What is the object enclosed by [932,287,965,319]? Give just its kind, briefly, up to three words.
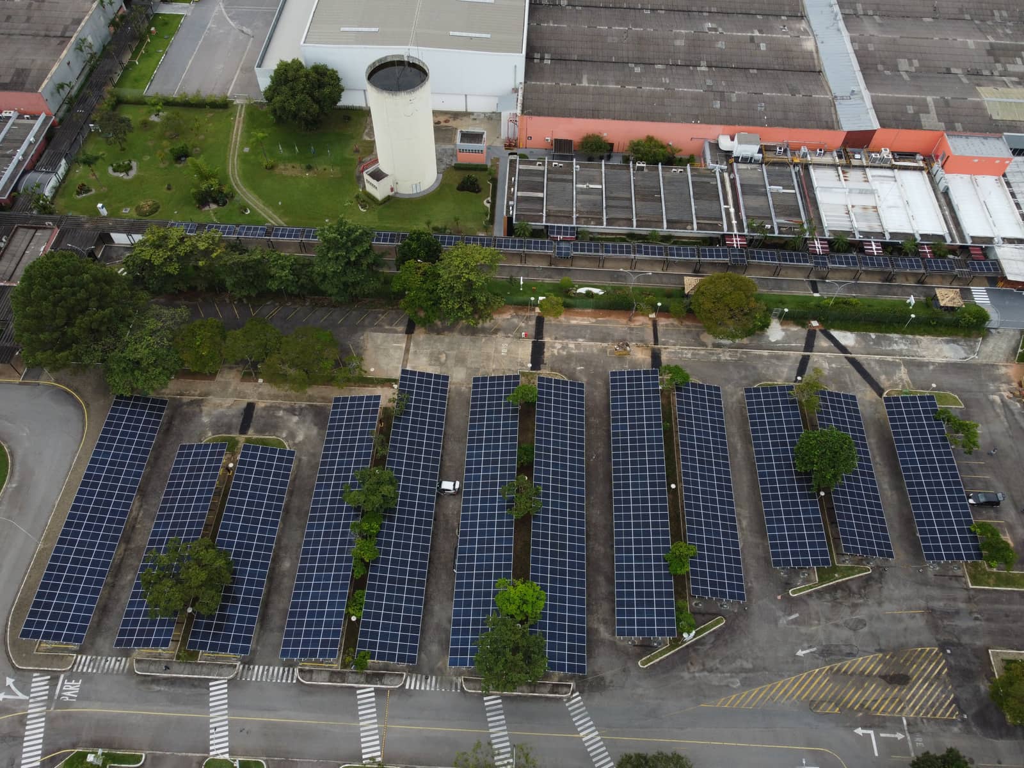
gazebo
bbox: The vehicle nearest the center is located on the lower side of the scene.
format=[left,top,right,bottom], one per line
[435,479,460,498]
